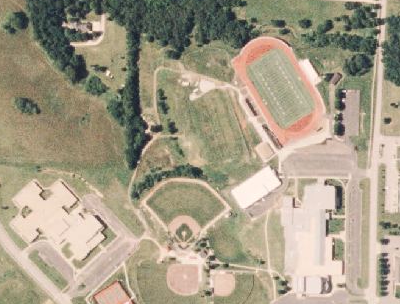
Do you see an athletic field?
Yes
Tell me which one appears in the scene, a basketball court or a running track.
running track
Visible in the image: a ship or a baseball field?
baseball field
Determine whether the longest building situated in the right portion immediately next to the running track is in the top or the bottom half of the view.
bottom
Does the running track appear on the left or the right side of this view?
right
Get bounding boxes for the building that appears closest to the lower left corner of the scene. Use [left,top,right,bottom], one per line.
[9,180,106,260]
